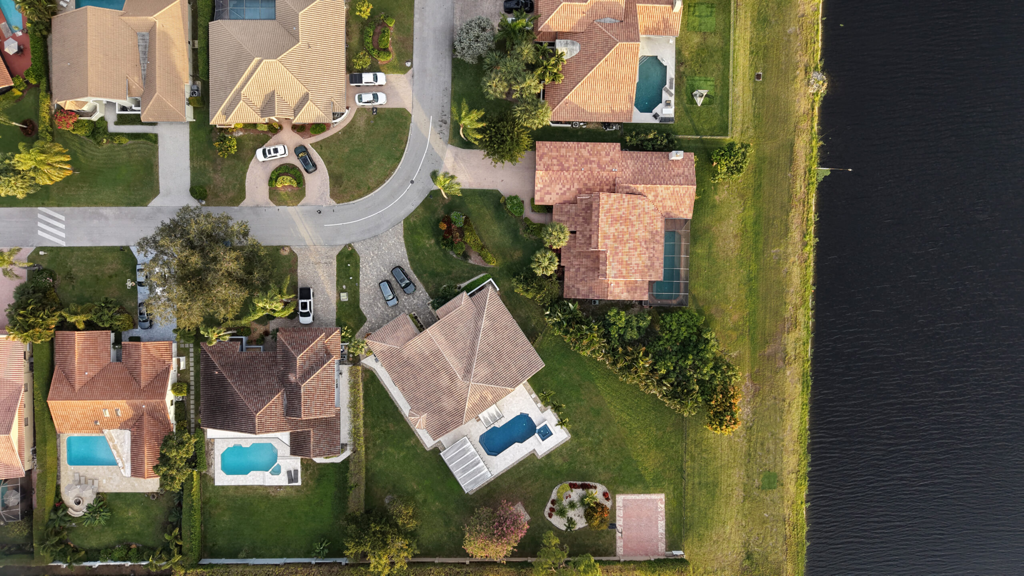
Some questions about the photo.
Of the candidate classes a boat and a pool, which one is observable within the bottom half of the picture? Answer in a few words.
pool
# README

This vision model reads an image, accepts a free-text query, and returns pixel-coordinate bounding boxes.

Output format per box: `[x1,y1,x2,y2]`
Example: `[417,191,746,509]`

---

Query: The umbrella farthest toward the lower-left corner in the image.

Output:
[6,490,22,505]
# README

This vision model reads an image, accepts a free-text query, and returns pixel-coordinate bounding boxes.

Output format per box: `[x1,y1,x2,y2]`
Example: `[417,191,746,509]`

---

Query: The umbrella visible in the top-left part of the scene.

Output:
[6,40,24,55]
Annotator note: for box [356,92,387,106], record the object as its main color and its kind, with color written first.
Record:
white car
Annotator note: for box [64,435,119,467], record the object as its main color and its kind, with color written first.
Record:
blue swimming pool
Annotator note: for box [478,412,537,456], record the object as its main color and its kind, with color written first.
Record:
blue swimming pool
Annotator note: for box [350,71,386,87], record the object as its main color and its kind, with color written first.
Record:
white vehicle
